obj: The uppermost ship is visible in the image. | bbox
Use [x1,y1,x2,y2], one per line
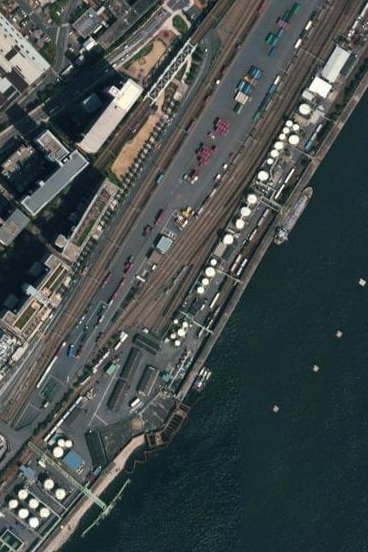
[275,189,312,245]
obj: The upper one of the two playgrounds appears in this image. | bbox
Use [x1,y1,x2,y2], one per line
[131,41,175,77]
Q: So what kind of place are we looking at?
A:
port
